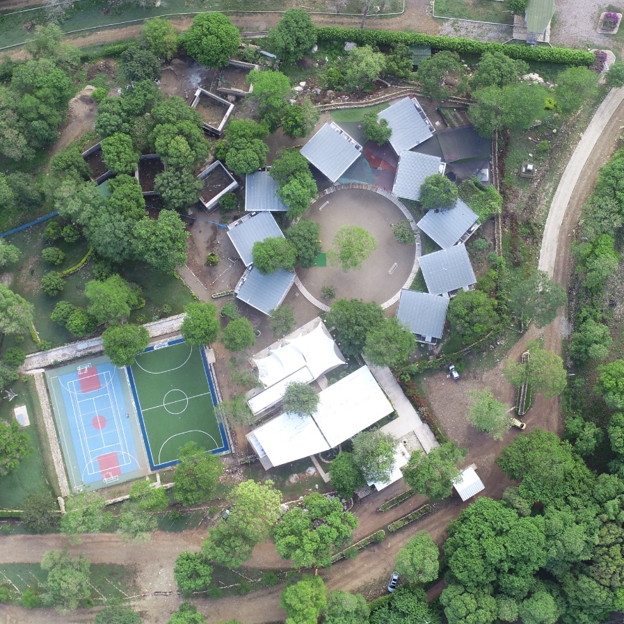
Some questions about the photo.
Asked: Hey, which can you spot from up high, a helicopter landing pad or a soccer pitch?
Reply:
soccer pitch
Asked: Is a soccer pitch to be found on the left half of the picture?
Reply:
Yes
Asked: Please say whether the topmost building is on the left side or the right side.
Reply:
right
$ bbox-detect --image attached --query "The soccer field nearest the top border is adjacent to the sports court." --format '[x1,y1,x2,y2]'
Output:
[127,336,229,473]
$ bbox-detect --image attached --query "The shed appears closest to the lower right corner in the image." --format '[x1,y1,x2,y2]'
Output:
[454,461,485,501]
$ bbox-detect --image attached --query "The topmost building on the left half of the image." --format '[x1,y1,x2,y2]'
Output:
[216,60,260,95]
